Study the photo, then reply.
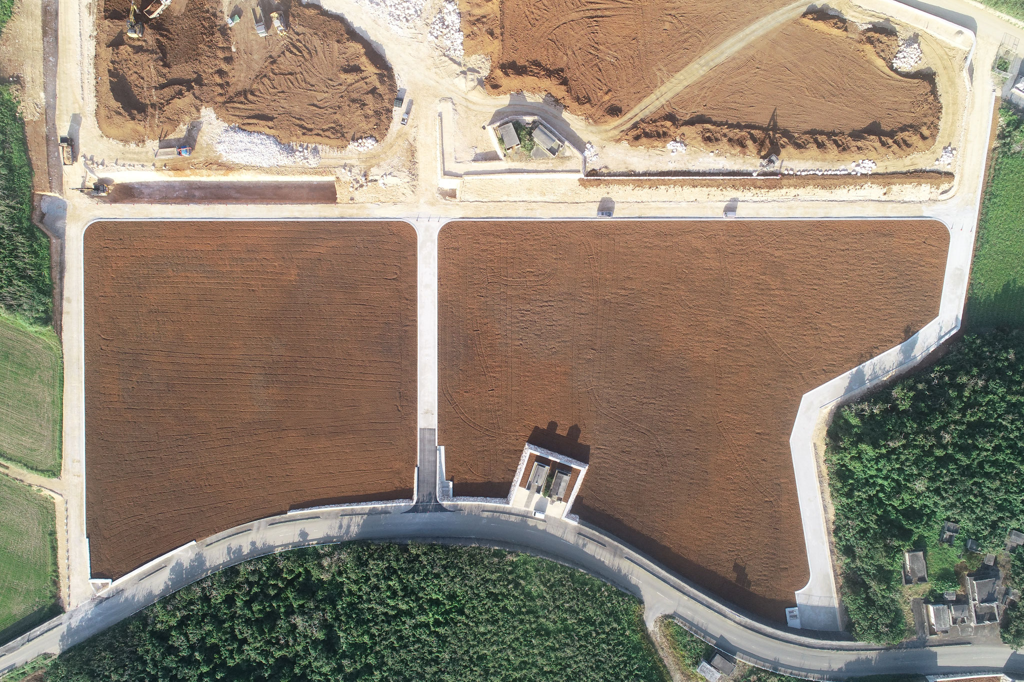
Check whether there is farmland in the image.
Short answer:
Yes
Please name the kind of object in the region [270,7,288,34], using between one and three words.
work vehicle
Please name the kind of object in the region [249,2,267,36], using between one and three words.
vehicle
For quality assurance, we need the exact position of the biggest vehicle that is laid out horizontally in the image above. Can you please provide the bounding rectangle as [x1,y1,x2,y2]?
[148,144,191,156]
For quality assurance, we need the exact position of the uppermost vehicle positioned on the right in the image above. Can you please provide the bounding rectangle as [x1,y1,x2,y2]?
[760,150,784,175]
